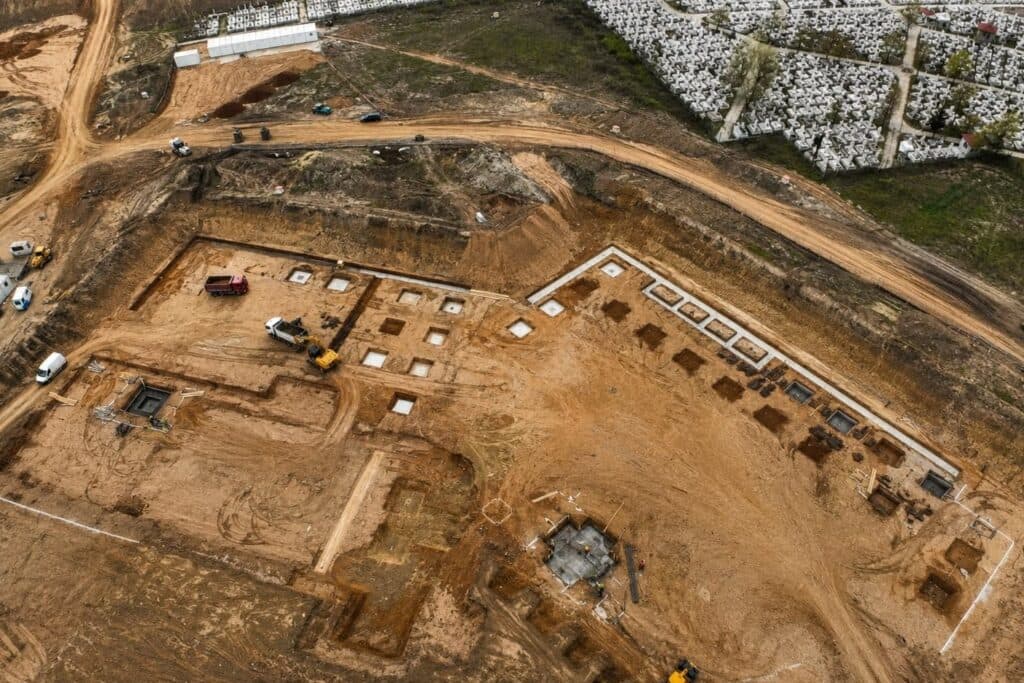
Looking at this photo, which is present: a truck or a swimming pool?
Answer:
truck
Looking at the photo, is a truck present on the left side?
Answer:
Yes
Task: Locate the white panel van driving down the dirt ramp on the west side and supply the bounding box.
[29,348,68,385]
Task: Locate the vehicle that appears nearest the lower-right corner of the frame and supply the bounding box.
[664,658,703,683]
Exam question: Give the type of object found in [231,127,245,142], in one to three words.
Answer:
work vehicle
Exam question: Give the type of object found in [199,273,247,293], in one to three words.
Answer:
vehicle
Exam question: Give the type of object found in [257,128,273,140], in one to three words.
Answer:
vehicle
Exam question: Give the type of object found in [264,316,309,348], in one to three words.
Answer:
truck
